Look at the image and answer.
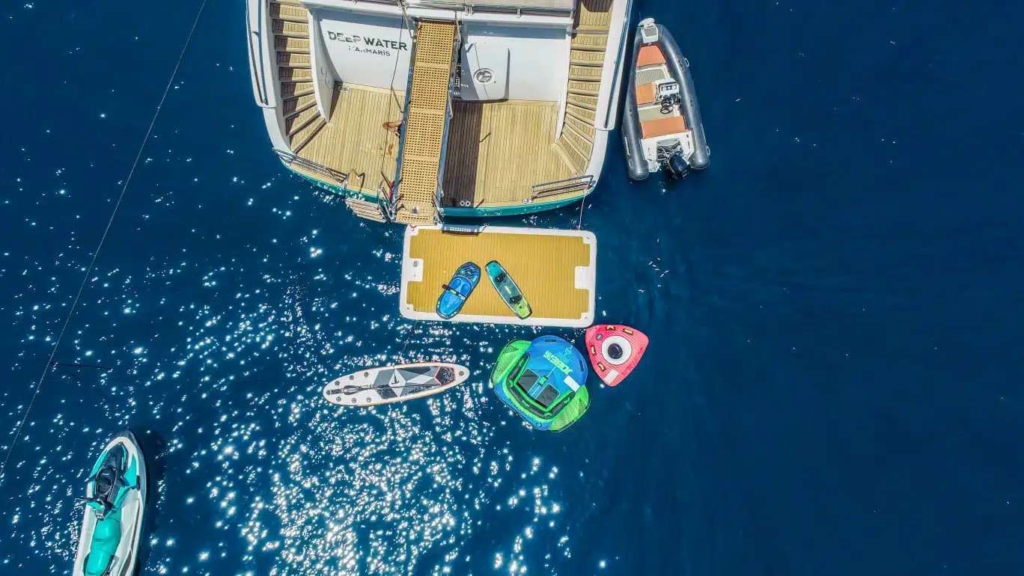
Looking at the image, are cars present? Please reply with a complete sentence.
No, the picture doesn't show any car.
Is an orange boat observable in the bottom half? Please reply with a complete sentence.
No, the scene shows no orange boat in the bottom half.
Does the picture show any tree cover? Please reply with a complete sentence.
No, there is no tree cover in the image.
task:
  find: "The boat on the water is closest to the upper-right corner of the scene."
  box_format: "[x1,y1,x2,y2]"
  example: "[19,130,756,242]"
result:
[615,15,713,186]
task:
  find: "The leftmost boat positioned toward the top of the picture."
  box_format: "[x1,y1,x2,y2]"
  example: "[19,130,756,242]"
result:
[249,0,632,233]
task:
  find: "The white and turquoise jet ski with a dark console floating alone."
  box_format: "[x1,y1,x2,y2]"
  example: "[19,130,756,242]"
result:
[70,430,150,576]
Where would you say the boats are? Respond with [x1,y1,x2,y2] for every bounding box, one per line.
[249,0,632,233]
[70,430,150,576]
[615,15,713,186]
